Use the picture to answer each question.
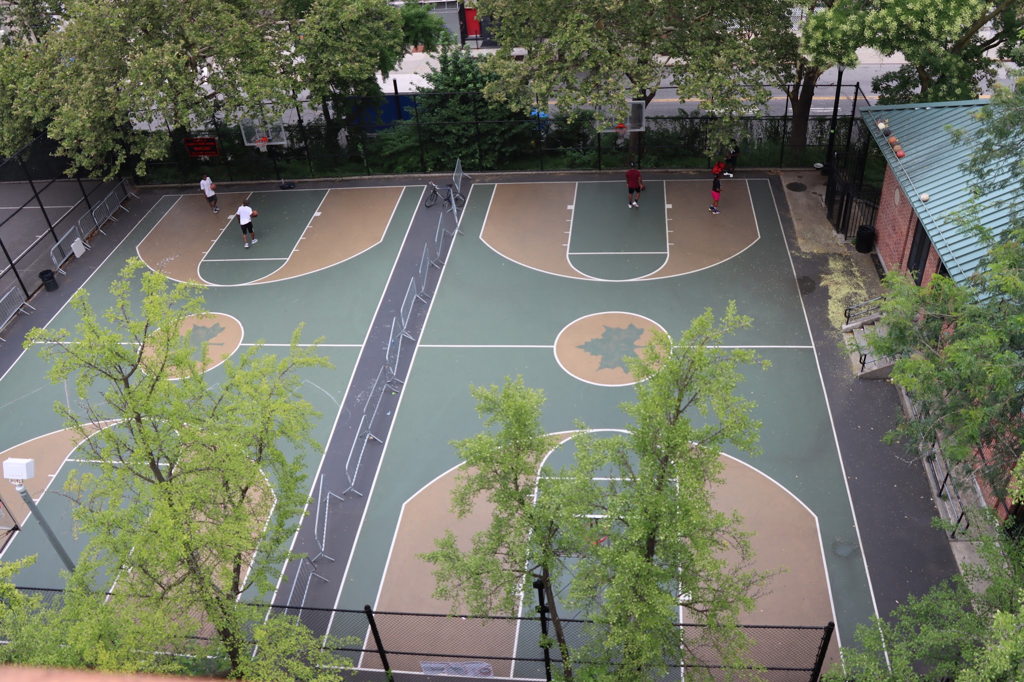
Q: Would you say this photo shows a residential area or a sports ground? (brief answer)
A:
sports ground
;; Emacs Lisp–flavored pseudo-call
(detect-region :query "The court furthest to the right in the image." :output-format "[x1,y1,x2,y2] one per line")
[332,179,885,682]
